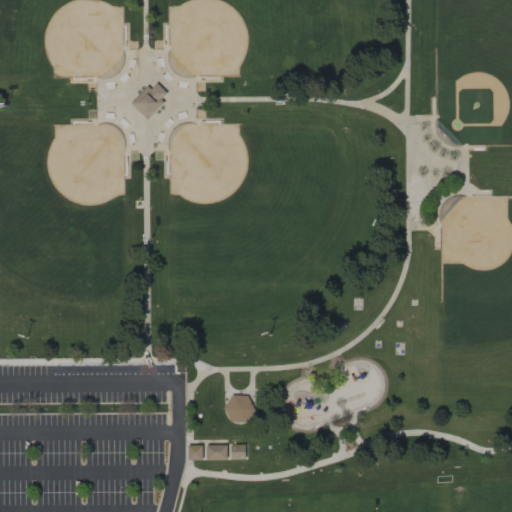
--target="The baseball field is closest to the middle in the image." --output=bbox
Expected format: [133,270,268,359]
[170,122,340,302]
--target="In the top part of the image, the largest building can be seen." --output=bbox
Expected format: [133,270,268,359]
[133,82,168,118]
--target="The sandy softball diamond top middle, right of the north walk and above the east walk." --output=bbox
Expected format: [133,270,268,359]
[168,0,342,78]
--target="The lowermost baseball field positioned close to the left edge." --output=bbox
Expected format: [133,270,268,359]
[0,122,126,296]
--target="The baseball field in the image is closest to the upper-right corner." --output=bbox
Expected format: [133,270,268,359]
[437,0,512,146]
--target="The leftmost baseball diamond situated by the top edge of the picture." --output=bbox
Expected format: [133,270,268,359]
[0,0,125,78]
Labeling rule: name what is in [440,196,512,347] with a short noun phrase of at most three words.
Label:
baseball field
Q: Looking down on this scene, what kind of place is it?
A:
sports ground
